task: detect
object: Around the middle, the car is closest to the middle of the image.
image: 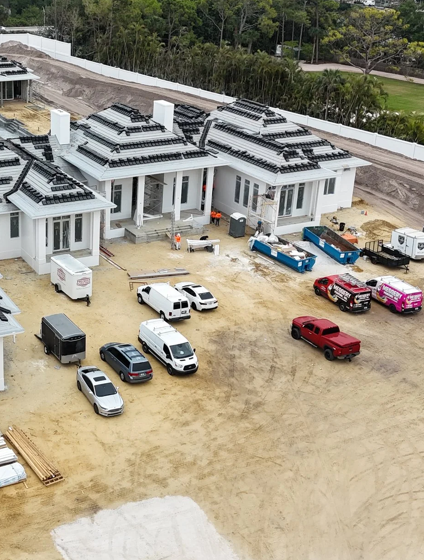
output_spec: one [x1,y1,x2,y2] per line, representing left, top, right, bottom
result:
[172,280,215,309]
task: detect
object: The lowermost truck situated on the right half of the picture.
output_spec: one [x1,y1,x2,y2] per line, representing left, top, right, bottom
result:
[285,317,364,363]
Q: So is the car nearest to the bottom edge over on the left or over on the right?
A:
left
